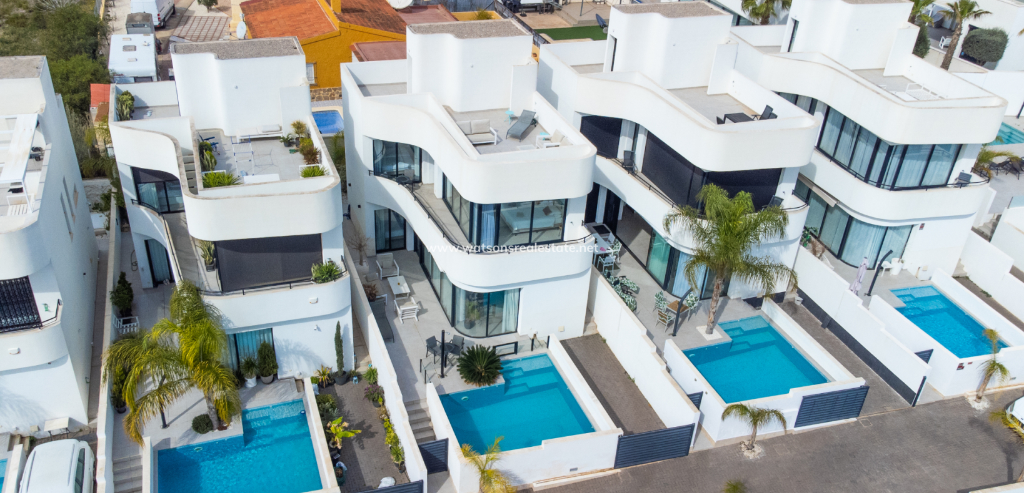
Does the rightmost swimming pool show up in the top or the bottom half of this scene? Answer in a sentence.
The rightmost swimming pool sits in the top half of the picture.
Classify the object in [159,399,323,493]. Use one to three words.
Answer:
swimming pool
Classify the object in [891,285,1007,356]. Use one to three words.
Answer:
swimming pool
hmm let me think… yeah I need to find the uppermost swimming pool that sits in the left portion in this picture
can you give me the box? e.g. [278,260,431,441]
[313,107,345,142]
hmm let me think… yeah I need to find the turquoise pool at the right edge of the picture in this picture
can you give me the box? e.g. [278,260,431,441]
[995,121,1024,148]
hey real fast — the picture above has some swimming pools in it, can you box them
[691,314,826,400]
[443,353,594,456]
[159,399,323,493]
[313,107,345,142]
[995,121,1024,148]
[891,285,1007,356]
